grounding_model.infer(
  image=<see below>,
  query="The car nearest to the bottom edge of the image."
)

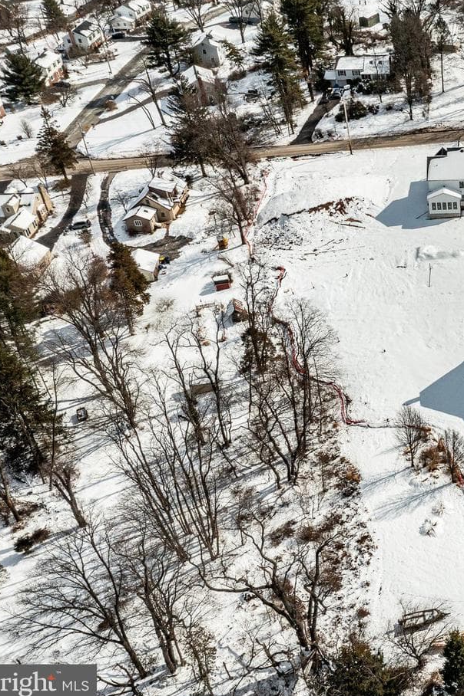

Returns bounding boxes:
[65,218,95,232]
